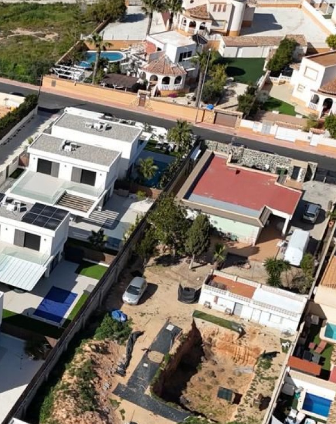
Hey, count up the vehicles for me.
3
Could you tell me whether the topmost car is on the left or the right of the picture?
right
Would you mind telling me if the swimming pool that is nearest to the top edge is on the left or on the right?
left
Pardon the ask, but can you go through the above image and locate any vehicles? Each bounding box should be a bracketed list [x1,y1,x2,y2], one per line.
[302,200,322,222]
[122,275,147,301]
[285,224,315,264]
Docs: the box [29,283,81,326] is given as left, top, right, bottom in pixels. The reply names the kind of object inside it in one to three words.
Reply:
swimming pool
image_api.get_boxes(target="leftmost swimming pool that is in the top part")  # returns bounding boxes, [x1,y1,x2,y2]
[73,50,128,70]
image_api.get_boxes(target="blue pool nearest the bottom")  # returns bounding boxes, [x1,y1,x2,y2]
[298,392,336,415]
